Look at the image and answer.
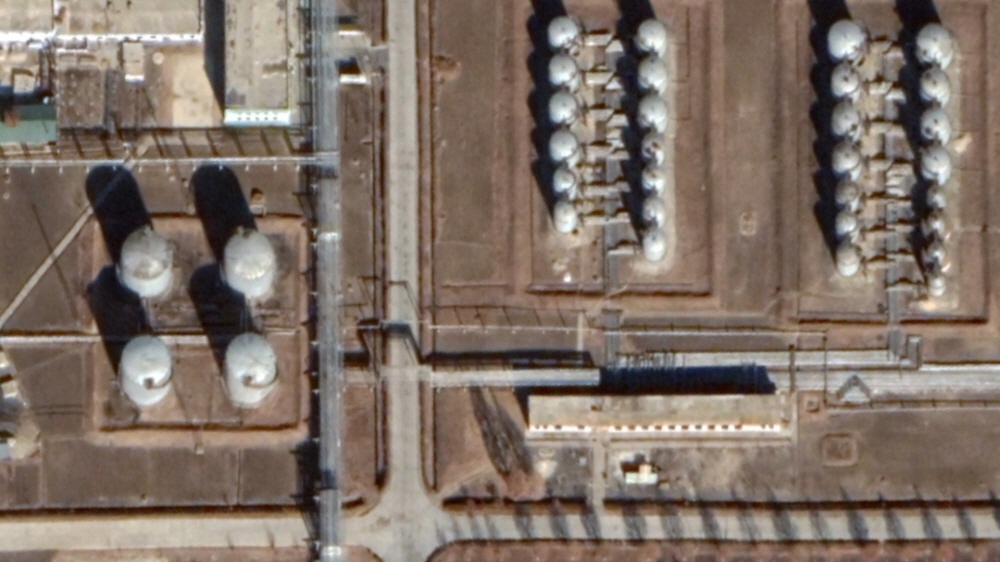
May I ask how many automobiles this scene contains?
none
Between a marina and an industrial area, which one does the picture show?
industrial area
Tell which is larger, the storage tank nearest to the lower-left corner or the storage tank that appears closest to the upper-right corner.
the storage tank nearest to the lower-left corner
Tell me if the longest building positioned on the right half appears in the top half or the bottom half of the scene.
bottom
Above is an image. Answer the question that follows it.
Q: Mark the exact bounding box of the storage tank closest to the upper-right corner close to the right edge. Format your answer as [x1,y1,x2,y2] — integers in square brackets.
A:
[914,22,955,67]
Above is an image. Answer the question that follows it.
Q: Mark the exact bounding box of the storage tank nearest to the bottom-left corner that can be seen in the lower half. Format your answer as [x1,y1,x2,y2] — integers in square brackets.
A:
[119,337,176,406]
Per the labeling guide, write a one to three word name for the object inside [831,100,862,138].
storage tank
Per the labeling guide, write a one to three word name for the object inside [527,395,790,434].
building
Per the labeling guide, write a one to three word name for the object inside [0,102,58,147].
shed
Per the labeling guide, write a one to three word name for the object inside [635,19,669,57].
storage tank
